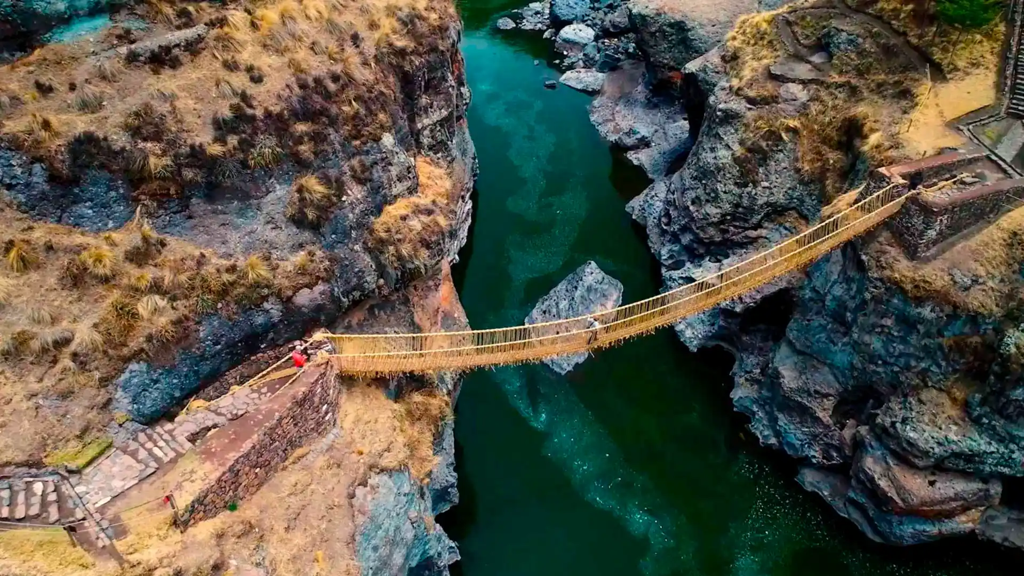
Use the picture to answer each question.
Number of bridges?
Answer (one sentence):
The photo contains exactly 1 bridge.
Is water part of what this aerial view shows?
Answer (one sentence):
Yes, water can be seen from above here.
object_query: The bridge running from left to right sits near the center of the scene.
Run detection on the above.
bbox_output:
[309,176,921,383]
